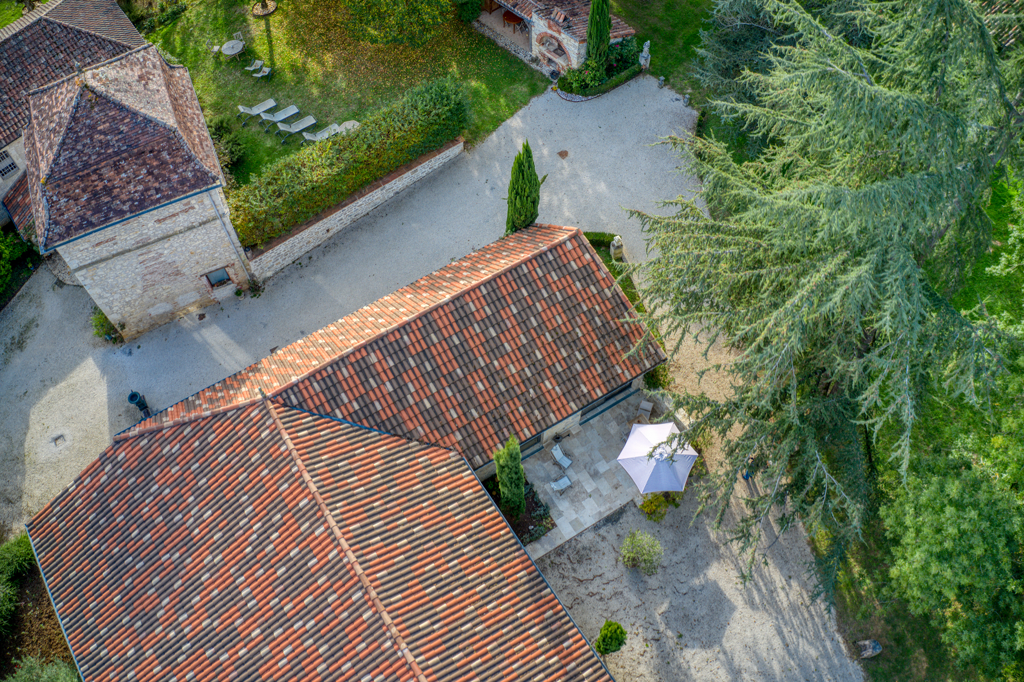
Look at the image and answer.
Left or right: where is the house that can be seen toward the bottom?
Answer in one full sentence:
The house that can be seen toward the bottom is on the left side of the image.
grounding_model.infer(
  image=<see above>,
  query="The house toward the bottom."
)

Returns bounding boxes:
[23,220,669,682]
